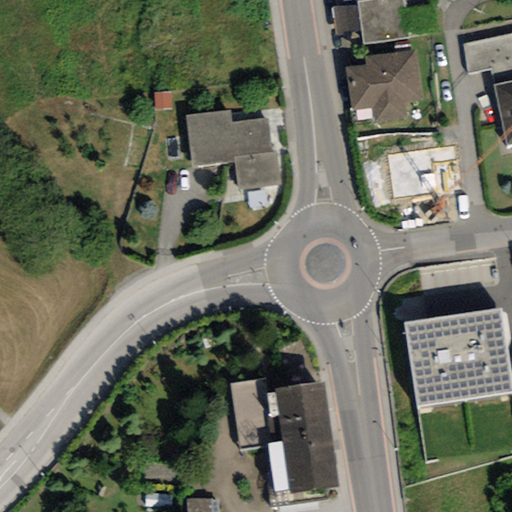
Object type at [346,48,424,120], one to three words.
house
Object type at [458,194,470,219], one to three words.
vehicle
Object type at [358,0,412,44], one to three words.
house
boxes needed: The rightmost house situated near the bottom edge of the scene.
[267,382,339,508]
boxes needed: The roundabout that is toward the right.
[264,203,382,325]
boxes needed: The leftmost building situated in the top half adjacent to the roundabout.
[186,110,281,190]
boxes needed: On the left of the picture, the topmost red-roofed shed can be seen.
[154,92,172,110]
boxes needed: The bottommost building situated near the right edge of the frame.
[405,308,512,408]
